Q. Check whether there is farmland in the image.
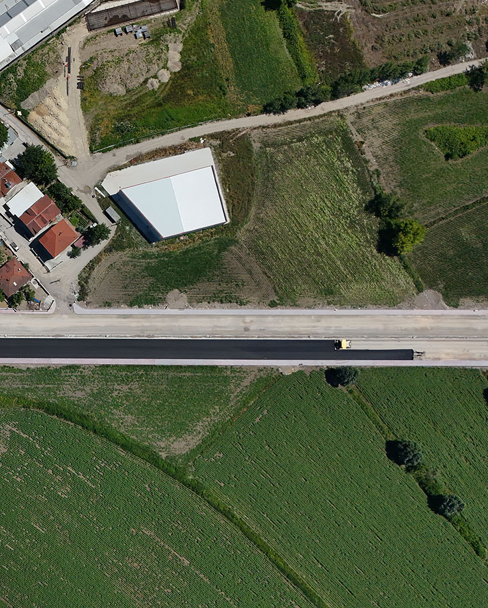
Yes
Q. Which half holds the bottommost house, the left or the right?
left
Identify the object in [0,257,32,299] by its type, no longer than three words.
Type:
house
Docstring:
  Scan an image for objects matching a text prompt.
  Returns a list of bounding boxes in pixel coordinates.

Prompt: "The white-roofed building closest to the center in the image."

[118,166,226,239]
